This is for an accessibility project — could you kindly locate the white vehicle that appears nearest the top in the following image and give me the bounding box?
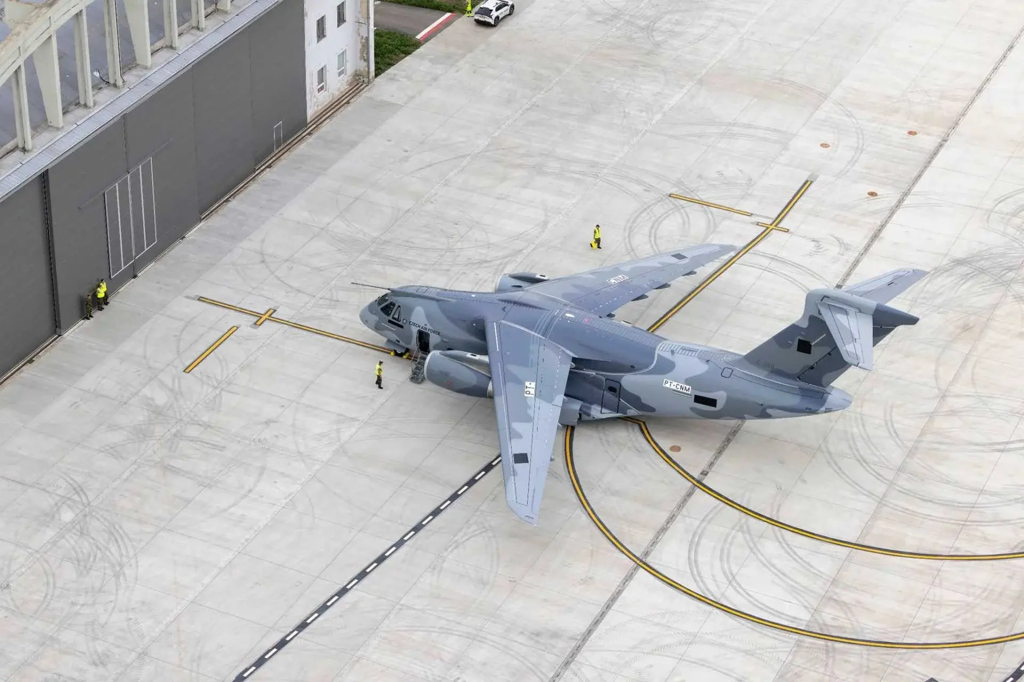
[474,0,517,24]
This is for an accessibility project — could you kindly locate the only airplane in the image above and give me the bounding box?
[349,243,927,526]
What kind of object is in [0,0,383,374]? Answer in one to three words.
hangar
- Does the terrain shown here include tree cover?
No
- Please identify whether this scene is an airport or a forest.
airport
